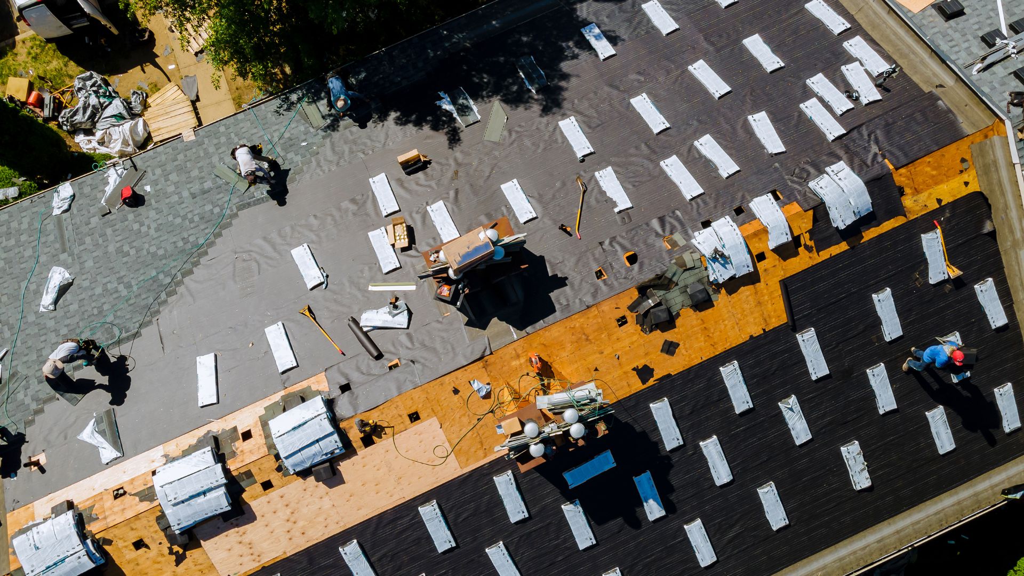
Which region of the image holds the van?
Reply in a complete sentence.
The van is located in the top left region of the scene.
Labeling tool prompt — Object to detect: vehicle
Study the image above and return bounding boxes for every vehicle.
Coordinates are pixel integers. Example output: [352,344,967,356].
[9,0,104,49]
